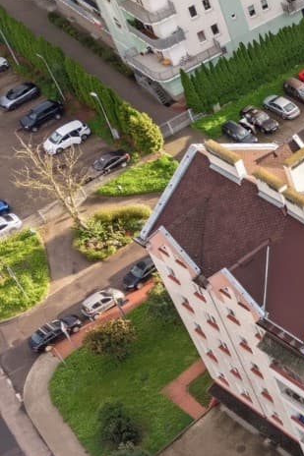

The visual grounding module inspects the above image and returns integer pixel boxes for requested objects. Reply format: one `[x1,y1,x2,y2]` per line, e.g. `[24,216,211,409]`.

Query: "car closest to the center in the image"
[114,257,158,289]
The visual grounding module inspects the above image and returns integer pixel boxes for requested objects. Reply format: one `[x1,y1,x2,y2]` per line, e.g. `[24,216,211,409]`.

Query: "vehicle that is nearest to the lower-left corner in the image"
[25,317,89,355]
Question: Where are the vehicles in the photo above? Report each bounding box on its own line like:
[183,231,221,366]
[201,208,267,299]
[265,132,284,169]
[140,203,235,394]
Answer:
[44,117,93,153]
[0,211,29,236]
[216,115,257,144]
[17,96,67,131]
[280,76,304,106]
[85,144,137,180]
[0,51,12,69]
[114,257,158,289]
[0,77,45,111]
[75,287,129,319]
[259,92,302,122]
[25,317,89,355]
[236,104,279,135]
